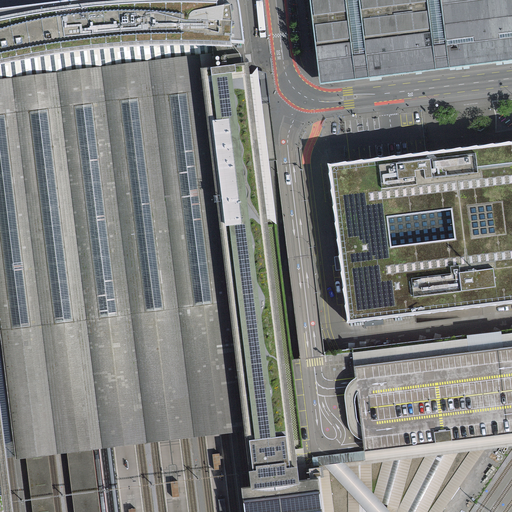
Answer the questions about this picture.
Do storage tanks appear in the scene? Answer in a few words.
No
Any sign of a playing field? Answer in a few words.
No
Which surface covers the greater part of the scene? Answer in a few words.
buildings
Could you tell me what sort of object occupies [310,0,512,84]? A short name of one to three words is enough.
building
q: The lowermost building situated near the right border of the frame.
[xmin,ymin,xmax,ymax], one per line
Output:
[328,141,512,327]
